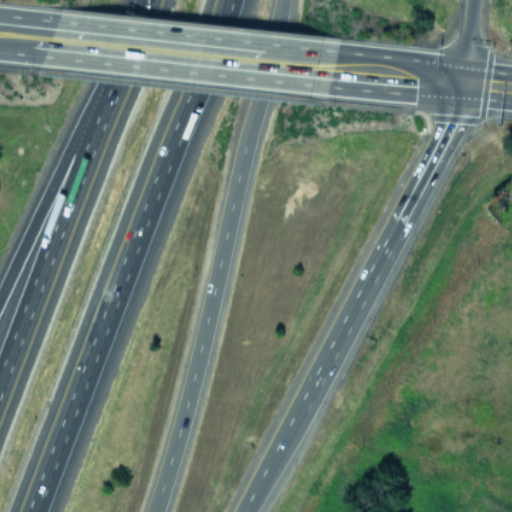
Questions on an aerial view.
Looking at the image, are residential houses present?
No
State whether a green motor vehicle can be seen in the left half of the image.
Yes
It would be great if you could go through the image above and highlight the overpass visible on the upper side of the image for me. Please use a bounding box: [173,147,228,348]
[40,10,343,104]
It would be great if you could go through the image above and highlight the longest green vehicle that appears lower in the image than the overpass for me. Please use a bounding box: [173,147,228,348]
[64,159,90,216]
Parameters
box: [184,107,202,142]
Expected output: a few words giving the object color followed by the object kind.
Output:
white vehicle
